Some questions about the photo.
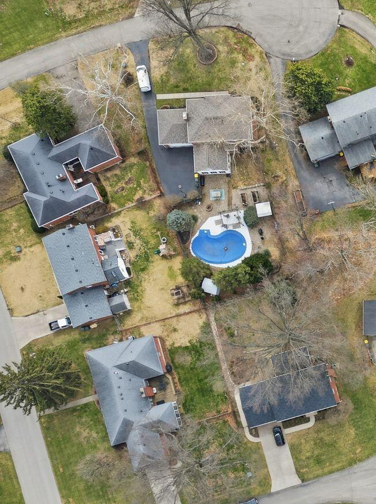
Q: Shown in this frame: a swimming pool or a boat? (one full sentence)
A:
Of the two, only a swimming pool appears.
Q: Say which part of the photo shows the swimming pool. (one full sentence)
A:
The swimming pool sits in the center section of the image.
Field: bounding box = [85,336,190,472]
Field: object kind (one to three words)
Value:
house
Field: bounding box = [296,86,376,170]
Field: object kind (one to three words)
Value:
house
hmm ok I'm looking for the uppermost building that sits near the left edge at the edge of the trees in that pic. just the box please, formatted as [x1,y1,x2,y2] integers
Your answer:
[8,124,119,228]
